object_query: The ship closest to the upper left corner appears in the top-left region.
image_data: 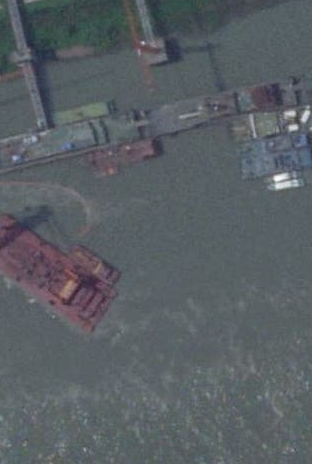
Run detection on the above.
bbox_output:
[54,101,114,126]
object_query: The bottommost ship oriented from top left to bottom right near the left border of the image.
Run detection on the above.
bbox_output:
[0,216,119,332]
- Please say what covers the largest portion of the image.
water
